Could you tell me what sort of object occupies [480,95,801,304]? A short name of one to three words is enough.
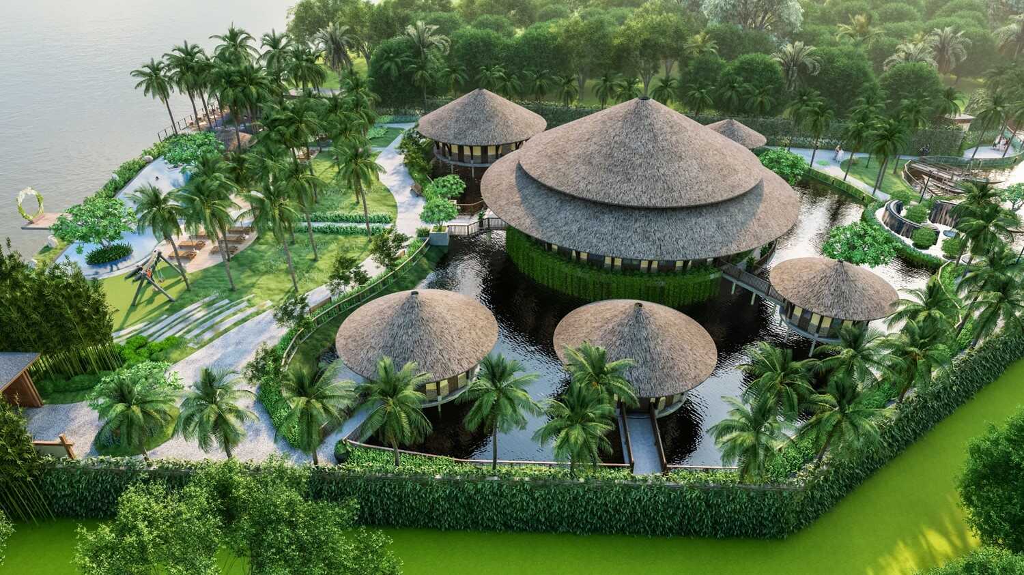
building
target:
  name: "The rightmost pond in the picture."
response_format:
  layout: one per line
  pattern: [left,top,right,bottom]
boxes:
[304,145,925,477]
